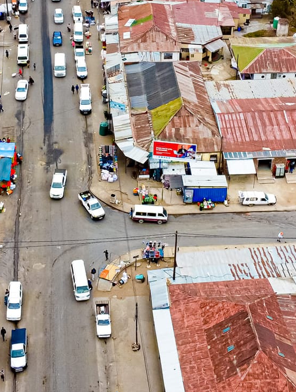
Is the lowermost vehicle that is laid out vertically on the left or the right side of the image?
left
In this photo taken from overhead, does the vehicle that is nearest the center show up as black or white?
white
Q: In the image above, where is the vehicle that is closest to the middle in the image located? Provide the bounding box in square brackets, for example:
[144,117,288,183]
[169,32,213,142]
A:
[129,203,169,224]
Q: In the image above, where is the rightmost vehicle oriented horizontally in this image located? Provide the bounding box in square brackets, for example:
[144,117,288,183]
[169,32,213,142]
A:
[233,187,278,207]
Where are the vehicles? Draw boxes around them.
[51,31,64,46]
[14,80,29,99]
[49,170,67,200]
[73,20,85,42]
[75,59,89,79]
[53,52,66,75]
[74,43,87,62]
[18,0,28,10]
[78,79,93,110]
[17,47,29,64]
[5,282,24,319]
[71,5,84,22]
[70,258,92,299]
[79,191,104,220]
[233,187,278,207]
[7,330,28,372]
[17,26,29,42]
[129,203,169,224]
[94,303,113,339]
[53,9,65,24]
